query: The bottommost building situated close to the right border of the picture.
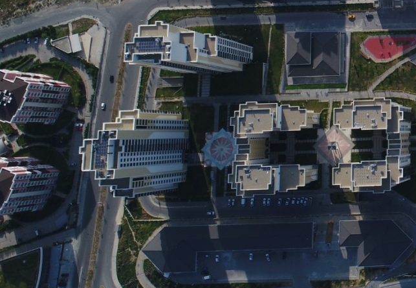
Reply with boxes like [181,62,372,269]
[340,220,413,266]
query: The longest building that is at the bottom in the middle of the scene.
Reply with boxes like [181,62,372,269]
[141,222,315,272]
